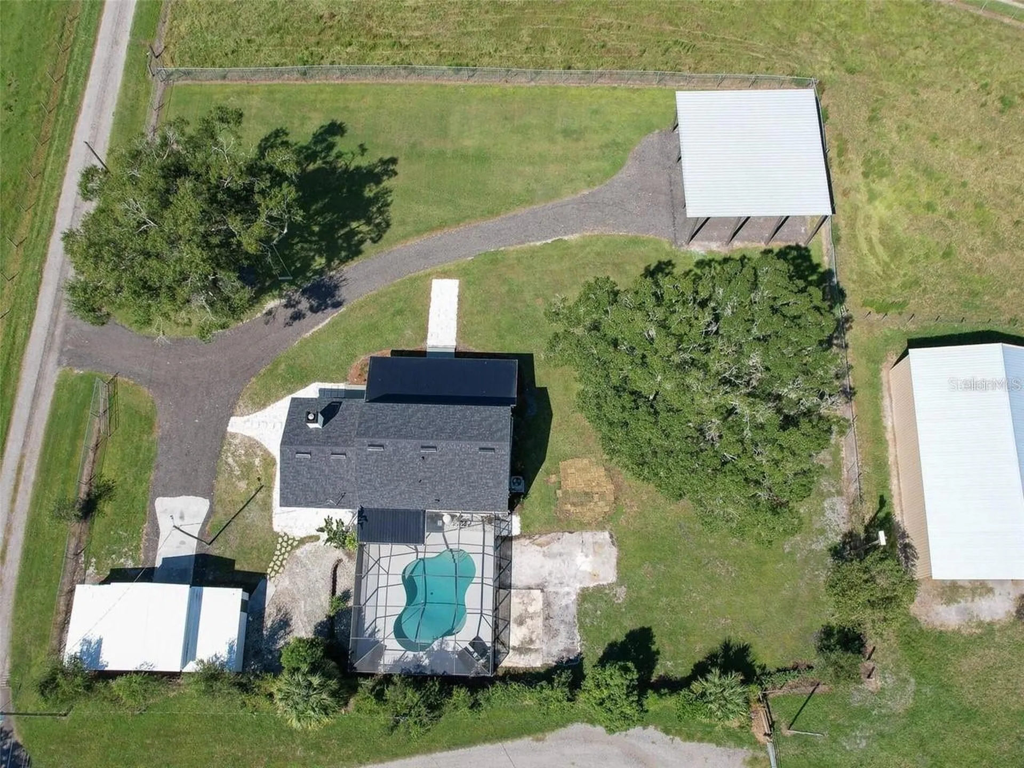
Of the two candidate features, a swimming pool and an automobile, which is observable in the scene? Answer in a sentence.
It is a swimming pool that can be seen here.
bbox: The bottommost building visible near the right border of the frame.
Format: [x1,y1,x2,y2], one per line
[890,340,1024,584]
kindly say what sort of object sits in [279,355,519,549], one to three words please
house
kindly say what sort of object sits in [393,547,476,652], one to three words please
swimming pool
